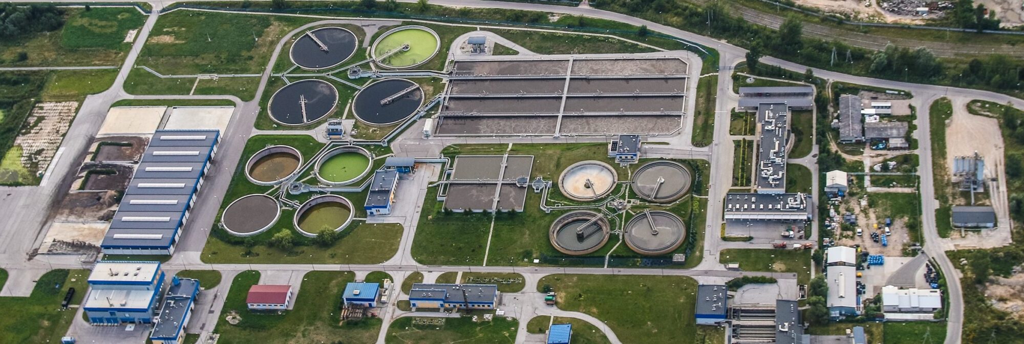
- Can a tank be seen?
Yes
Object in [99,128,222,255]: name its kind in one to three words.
building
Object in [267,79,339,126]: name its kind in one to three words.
storage tank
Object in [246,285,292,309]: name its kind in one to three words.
shed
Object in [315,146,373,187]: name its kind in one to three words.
storage tank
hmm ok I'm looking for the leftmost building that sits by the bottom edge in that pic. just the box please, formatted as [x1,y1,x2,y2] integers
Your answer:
[82,261,171,335]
